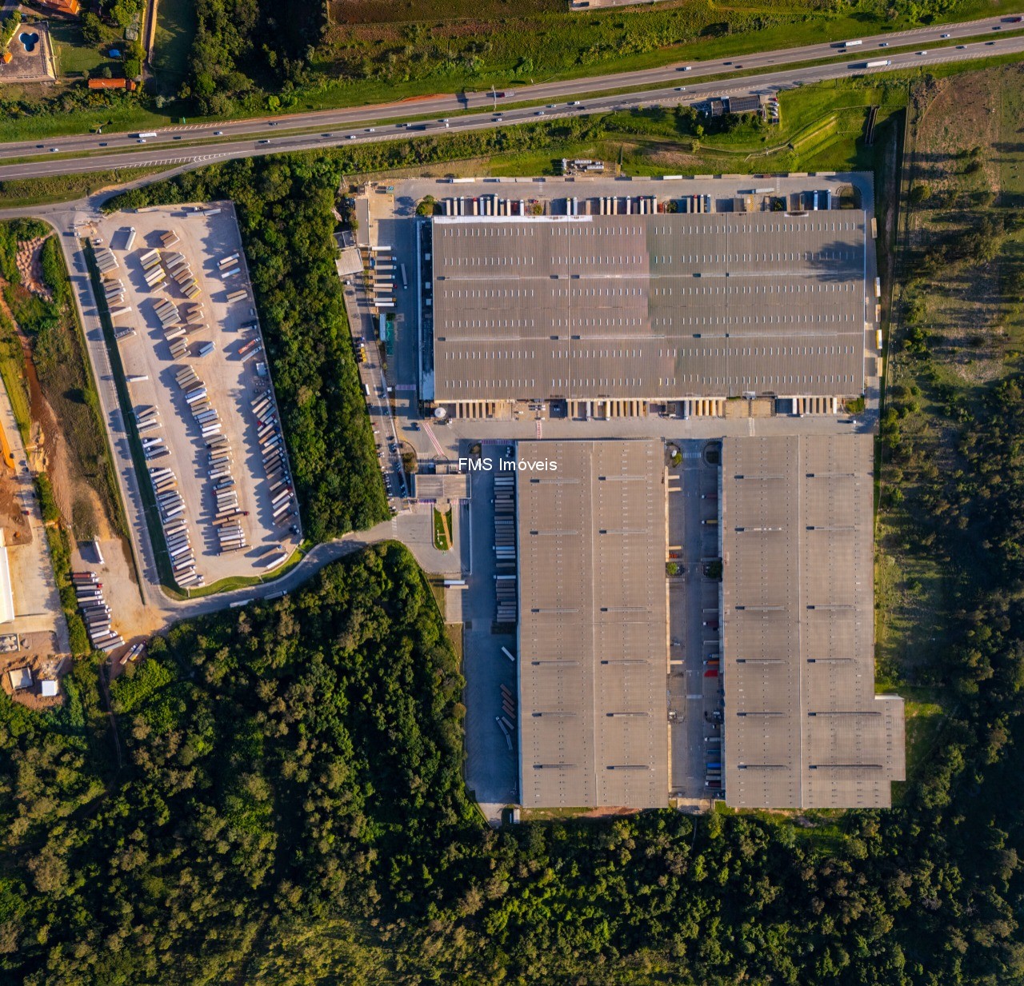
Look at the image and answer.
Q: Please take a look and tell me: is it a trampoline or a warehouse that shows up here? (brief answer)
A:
warehouse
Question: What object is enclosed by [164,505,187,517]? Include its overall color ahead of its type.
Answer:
white vehicle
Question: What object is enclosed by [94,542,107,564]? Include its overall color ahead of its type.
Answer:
white vehicle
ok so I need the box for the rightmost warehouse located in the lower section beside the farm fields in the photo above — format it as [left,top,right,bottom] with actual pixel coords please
[718,434,905,808]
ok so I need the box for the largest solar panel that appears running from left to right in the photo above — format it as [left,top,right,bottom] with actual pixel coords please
[730,96,759,111]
